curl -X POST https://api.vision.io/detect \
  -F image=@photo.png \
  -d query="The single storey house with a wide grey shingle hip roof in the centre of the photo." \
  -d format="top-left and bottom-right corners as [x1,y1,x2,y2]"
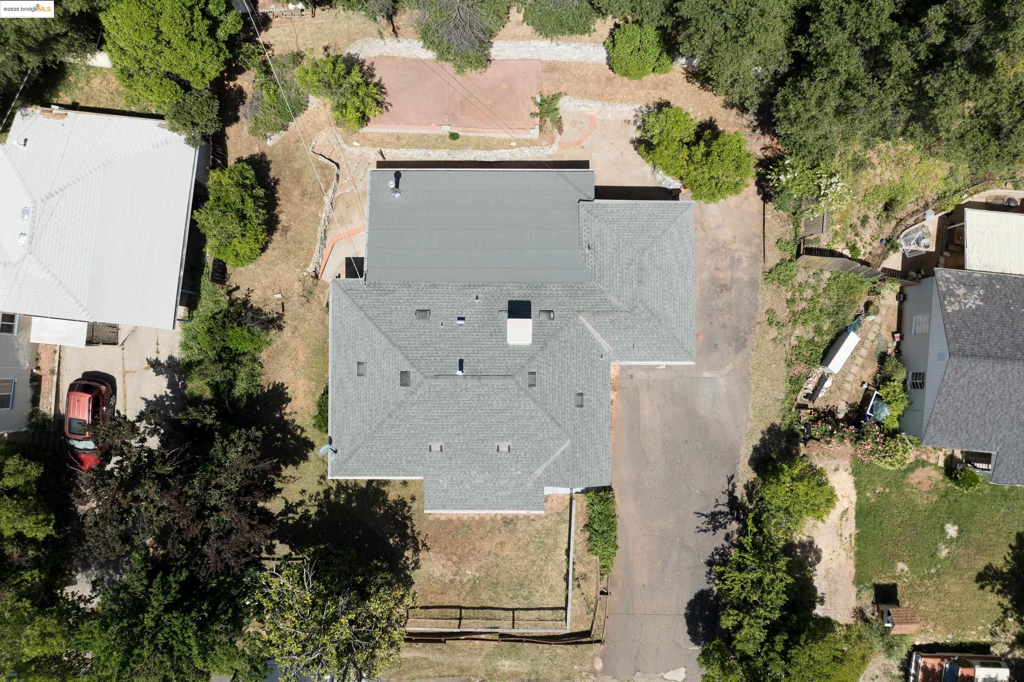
[328,167,697,516]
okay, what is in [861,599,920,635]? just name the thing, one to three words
shed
